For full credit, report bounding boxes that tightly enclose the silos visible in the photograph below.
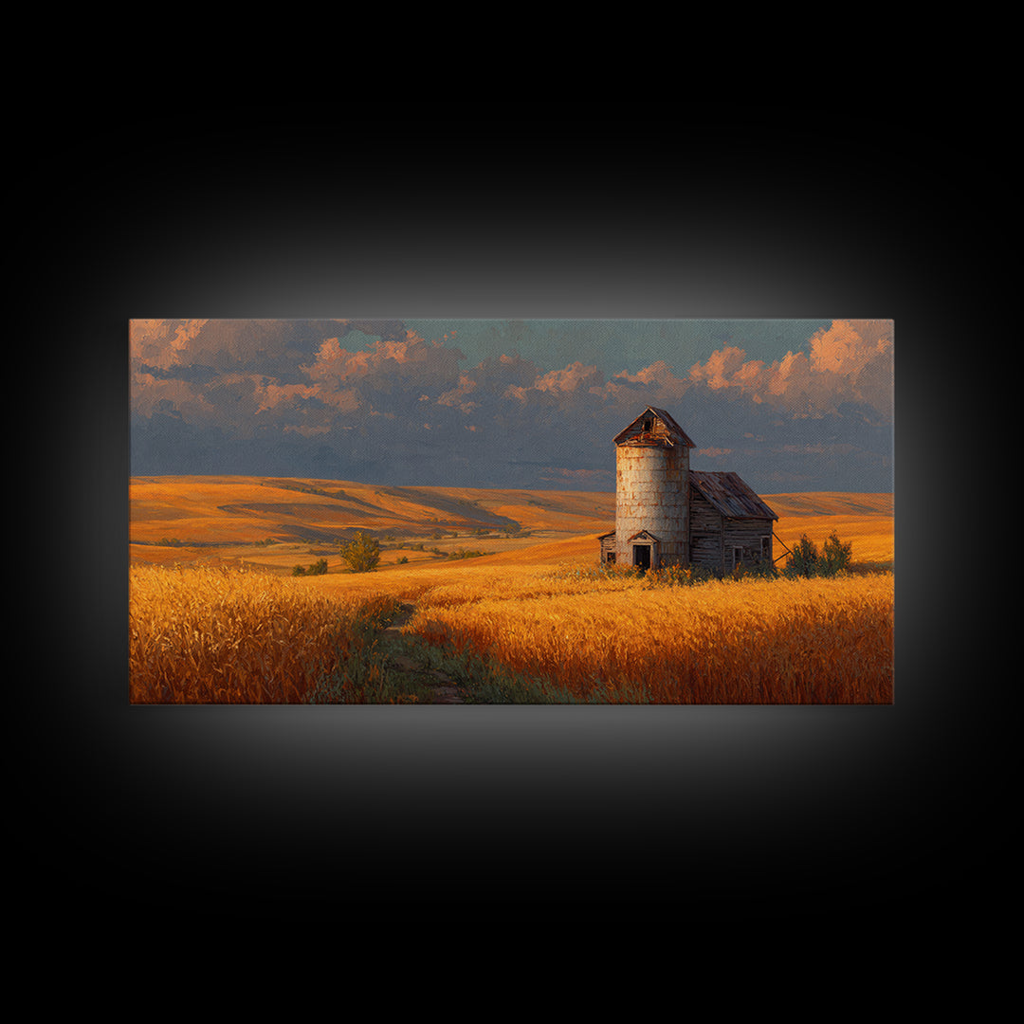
[612,405,695,568]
